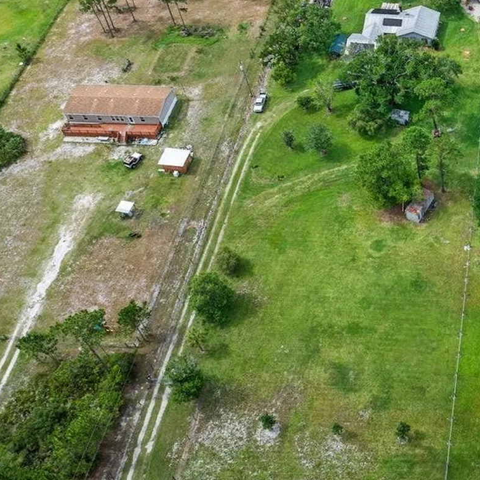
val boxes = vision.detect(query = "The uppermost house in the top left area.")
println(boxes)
[60,85,179,149]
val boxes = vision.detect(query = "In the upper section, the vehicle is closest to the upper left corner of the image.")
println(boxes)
[117,151,148,172]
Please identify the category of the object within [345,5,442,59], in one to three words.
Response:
house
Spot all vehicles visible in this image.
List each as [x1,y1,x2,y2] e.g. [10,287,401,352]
[117,151,148,172]
[250,92,269,114]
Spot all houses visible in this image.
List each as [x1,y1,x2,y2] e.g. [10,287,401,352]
[345,5,442,59]
[60,85,179,149]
